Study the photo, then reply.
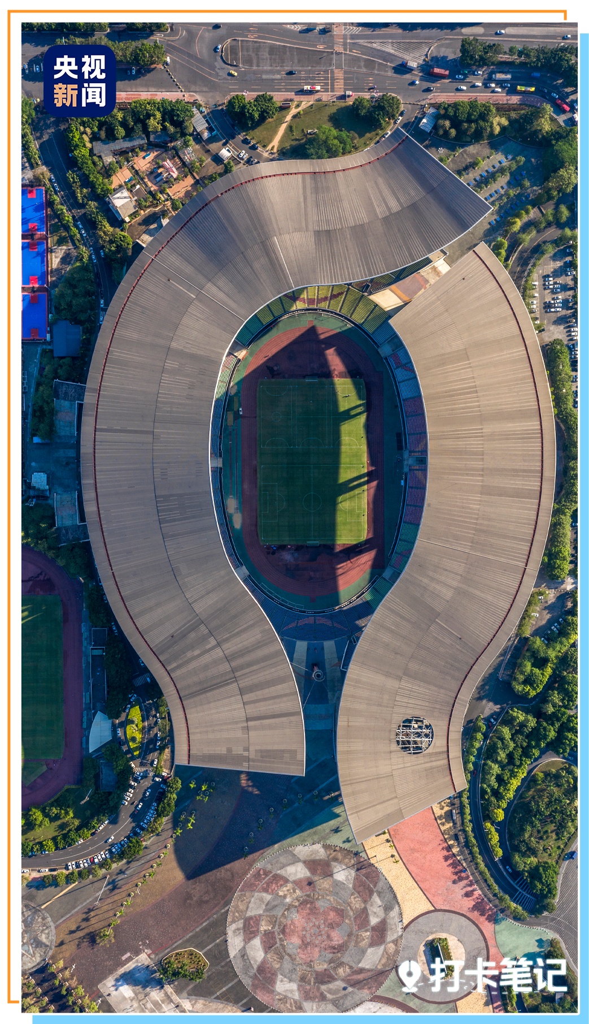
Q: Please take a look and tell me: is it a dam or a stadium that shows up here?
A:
stadium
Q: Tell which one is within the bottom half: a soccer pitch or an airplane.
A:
soccer pitch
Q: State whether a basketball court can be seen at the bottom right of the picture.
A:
No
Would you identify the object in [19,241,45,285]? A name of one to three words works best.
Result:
basketball court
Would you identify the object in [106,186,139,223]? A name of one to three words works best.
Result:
house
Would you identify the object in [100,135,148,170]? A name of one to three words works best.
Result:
shed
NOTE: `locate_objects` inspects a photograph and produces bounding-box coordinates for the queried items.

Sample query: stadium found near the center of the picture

[80,127,556,844]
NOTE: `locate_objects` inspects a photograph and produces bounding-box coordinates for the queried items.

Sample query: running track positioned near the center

[226,320,384,602]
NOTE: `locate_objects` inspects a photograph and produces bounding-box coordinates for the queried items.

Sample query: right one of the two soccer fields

[257,380,366,545]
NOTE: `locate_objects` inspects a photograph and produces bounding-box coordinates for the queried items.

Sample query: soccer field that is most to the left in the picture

[0,595,64,759]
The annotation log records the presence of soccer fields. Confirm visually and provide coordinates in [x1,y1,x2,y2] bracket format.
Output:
[257,380,366,545]
[0,595,64,759]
